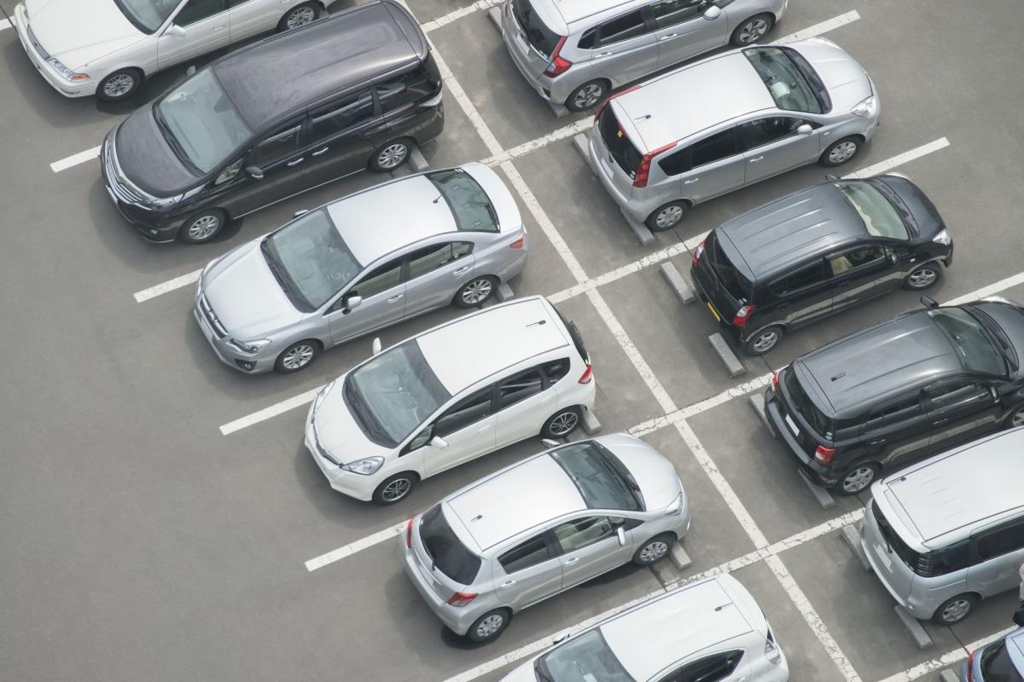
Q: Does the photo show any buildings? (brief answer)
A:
No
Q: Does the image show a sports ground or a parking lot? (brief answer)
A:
parking lot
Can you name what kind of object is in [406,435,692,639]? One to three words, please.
car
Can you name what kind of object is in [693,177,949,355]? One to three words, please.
car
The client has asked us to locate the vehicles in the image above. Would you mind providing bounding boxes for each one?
[586,43,873,230]
[17,0,344,101]
[969,625,1024,682]
[95,4,443,242]
[860,426,1024,626]
[197,157,532,371]
[302,290,599,503]
[693,177,949,355]
[406,435,692,639]
[505,0,786,108]
[764,297,1024,494]
[492,573,786,682]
